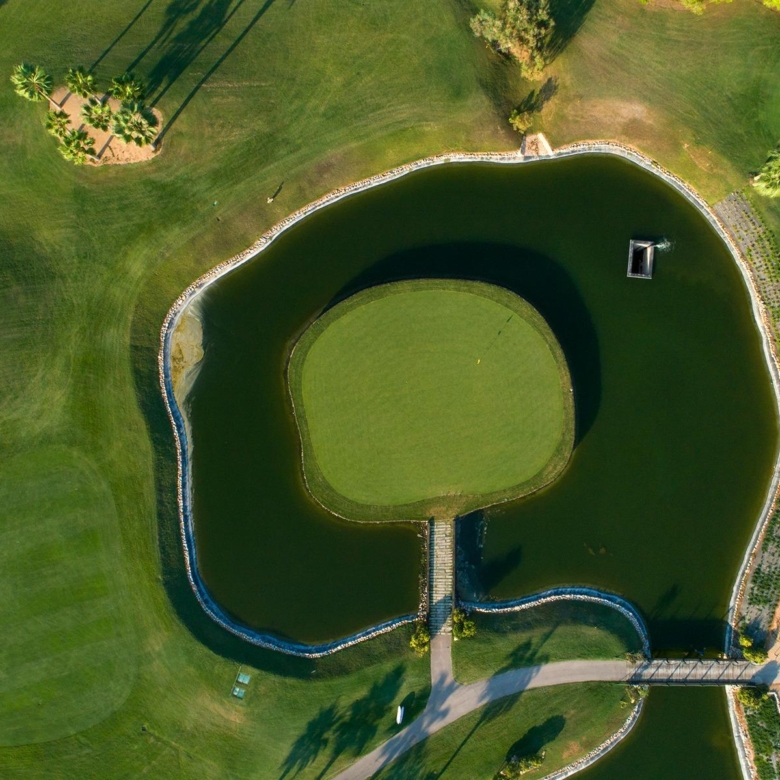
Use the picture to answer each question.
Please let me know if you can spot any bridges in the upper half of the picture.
No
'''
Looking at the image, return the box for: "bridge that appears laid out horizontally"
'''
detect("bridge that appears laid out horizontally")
[630,657,761,687]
